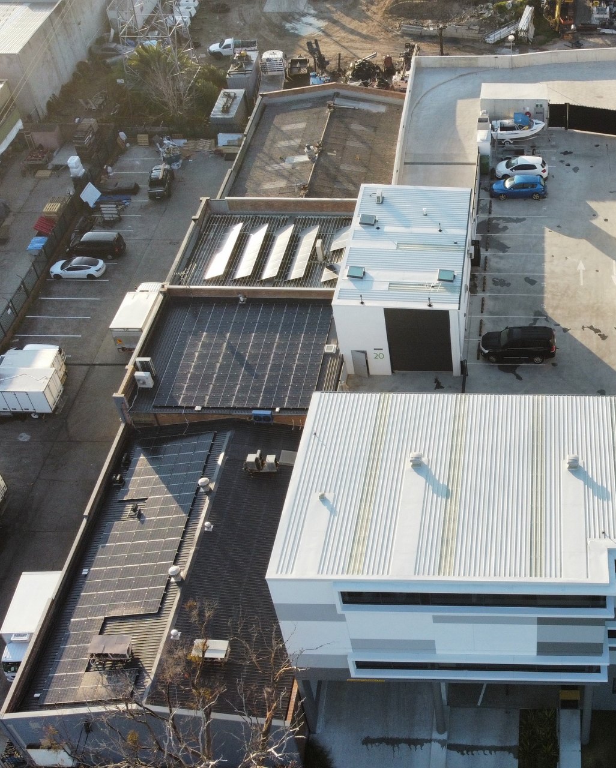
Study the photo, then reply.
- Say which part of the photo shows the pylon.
top left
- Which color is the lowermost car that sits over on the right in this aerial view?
black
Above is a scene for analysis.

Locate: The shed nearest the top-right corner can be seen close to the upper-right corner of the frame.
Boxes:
[481,81,548,130]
